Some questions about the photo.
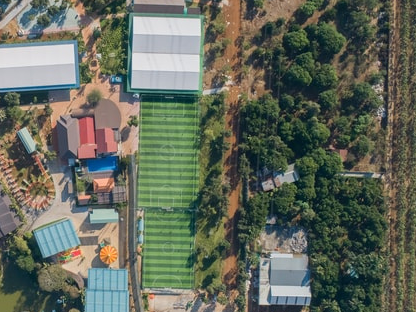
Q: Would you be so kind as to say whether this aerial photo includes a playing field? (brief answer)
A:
Yes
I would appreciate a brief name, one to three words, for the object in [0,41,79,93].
building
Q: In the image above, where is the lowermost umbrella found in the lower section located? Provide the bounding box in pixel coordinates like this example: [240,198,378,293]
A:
[100,246,119,265]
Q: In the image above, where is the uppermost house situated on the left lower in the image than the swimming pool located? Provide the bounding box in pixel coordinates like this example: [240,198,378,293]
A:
[93,178,115,194]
